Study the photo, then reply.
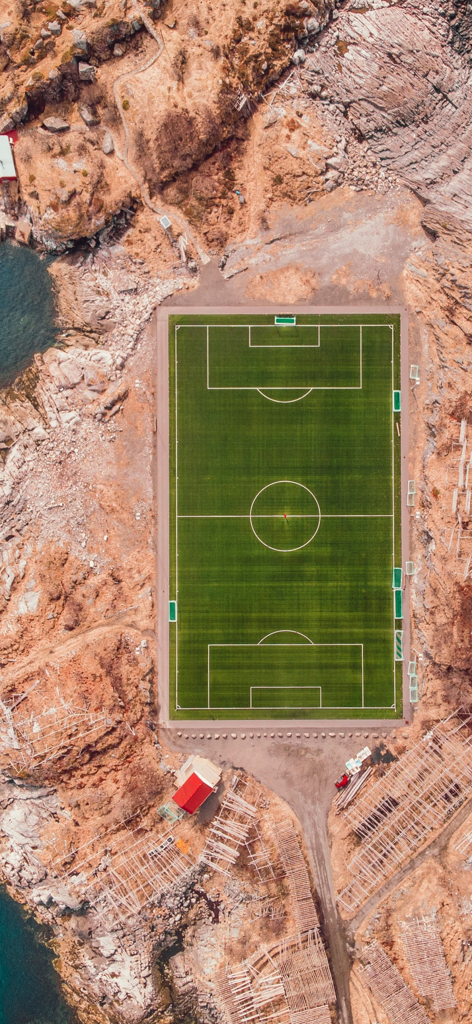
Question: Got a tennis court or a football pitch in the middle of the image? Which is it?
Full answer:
It is a football pitch that can be seen in the middle of the image.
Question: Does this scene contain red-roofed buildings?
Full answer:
Yes, looking at the shot, I can spot a red-roofed building.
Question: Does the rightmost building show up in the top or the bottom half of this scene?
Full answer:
It is in the bottom half that the rightmost building appears.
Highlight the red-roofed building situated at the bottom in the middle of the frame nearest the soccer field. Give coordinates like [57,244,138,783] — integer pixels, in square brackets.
[172,770,213,814]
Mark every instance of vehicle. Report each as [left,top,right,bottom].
[335,773,350,789]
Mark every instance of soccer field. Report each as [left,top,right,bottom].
[157,306,409,727]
